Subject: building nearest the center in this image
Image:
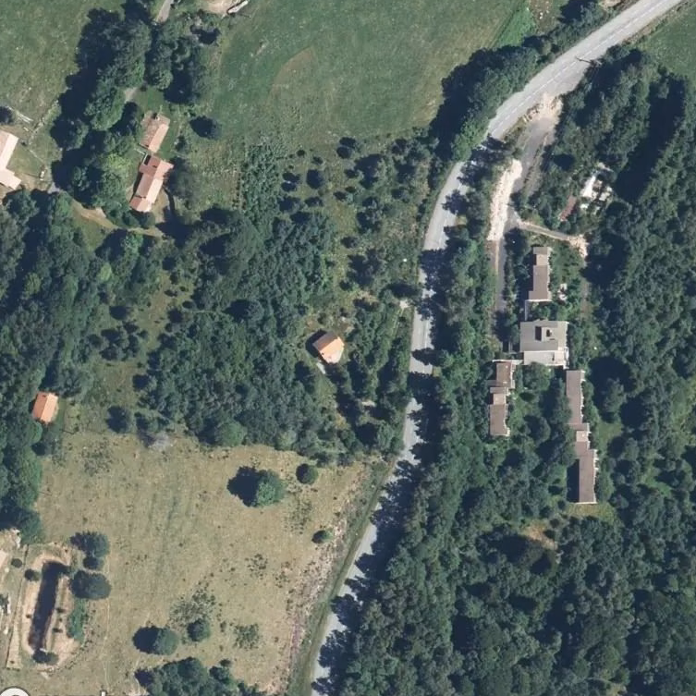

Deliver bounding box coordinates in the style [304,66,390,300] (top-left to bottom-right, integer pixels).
[313,331,344,363]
